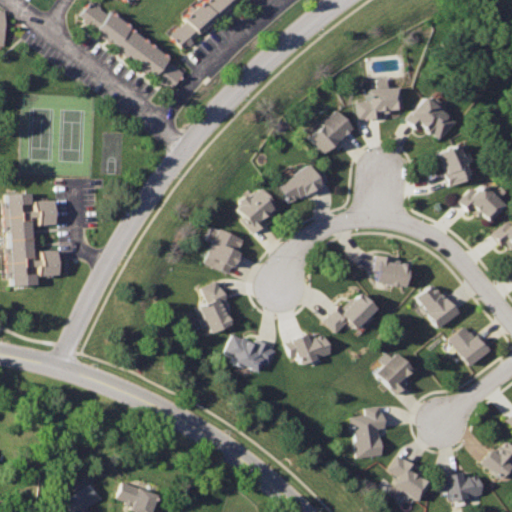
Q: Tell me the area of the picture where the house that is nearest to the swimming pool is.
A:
top right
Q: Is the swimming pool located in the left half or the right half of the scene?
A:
right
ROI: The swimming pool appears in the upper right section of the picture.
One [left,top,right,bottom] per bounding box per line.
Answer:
[366,56,404,79]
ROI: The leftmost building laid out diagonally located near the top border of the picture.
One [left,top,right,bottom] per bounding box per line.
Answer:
[78,2,185,86]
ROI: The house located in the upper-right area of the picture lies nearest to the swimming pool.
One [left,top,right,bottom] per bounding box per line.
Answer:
[354,79,401,120]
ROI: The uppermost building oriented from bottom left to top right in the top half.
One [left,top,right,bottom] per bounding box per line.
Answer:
[169,0,238,46]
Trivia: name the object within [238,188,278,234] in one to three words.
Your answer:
house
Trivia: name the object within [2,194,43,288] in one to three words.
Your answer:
building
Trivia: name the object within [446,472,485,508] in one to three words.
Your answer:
house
